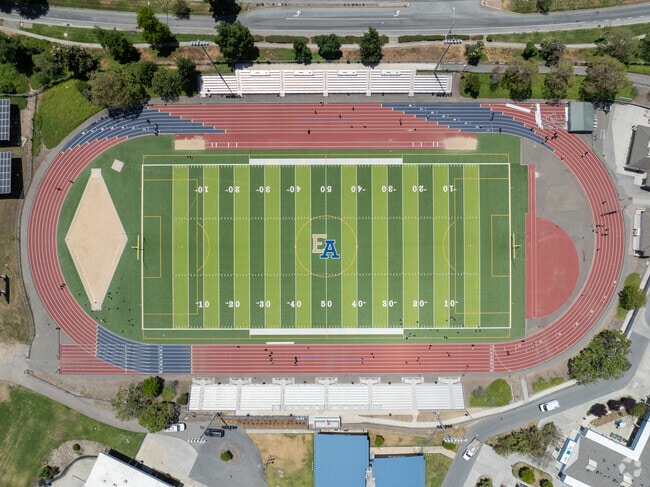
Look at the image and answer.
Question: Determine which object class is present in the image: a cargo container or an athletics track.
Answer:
athletics track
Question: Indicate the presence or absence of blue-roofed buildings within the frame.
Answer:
Yes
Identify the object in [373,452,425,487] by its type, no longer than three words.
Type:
building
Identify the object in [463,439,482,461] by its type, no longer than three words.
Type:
vehicle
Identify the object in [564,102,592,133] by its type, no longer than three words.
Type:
shed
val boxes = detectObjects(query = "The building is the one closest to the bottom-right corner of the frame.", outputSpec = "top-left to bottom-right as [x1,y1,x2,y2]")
[555,410,650,487]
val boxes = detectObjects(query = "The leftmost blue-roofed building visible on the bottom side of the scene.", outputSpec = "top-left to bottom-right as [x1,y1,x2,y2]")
[314,431,368,487]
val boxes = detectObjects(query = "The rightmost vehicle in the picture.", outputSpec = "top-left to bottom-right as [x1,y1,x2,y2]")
[539,401,563,413]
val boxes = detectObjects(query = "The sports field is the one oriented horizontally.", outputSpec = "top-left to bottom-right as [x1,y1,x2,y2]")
[58,133,527,344]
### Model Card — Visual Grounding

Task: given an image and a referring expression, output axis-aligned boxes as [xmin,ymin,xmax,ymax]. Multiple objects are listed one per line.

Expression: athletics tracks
[28,103,625,373]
